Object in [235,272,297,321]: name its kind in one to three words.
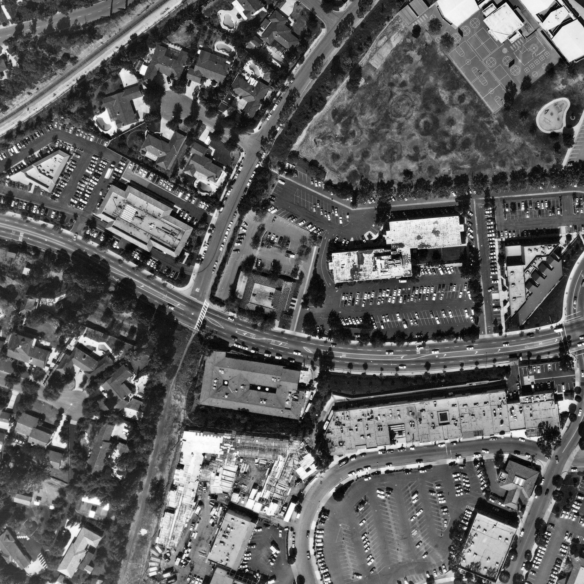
building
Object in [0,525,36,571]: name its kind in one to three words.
house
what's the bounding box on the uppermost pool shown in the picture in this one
[221,12,235,30]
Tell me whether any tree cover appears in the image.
Yes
